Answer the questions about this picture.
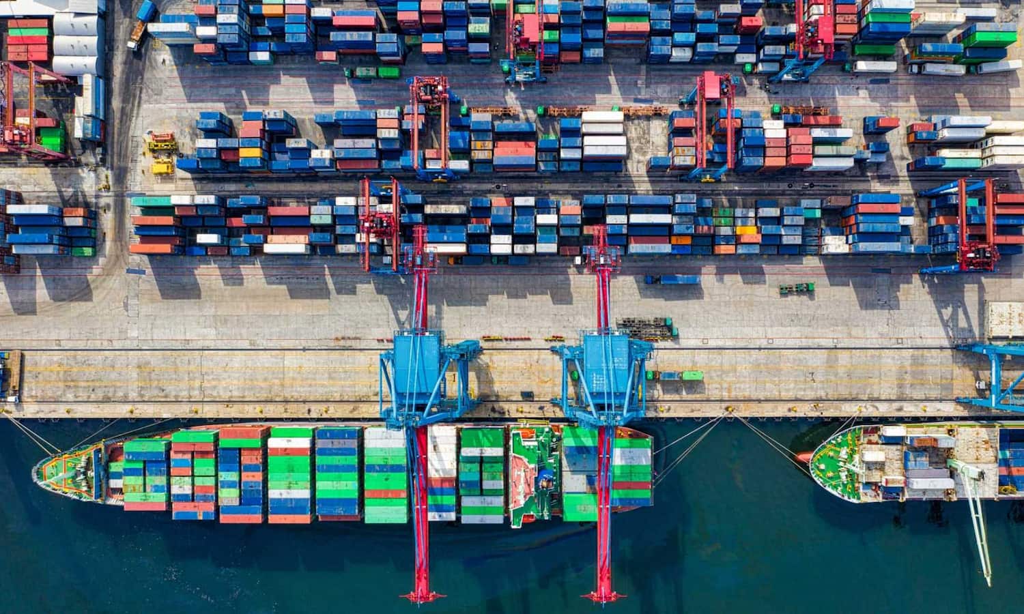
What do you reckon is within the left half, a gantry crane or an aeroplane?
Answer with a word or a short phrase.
gantry crane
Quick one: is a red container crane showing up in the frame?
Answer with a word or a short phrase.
Yes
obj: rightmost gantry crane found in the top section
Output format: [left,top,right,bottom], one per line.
[917,178,997,277]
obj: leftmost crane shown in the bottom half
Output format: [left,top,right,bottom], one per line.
[378,225,490,604]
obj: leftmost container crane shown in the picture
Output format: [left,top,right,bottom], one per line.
[0,61,81,159]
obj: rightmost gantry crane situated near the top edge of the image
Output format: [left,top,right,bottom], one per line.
[768,0,834,80]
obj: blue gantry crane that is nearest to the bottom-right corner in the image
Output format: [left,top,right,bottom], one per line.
[957,348,1024,414]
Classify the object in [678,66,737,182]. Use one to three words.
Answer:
container crane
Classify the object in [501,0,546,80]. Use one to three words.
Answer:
container crane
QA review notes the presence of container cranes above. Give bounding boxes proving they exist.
[917,178,997,277]
[378,225,490,604]
[362,178,414,277]
[678,66,737,182]
[957,348,1024,414]
[768,0,834,80]
[501,0,546,80]
[0,61,81,159]
[410,75,458,182]
[544,225,650,604]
